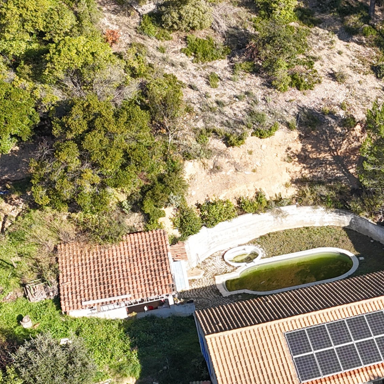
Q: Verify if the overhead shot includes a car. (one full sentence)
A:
No, there appears to be no car in this shot.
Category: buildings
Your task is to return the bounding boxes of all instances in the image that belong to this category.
[194,270,384,384]
[55,229,179,330]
